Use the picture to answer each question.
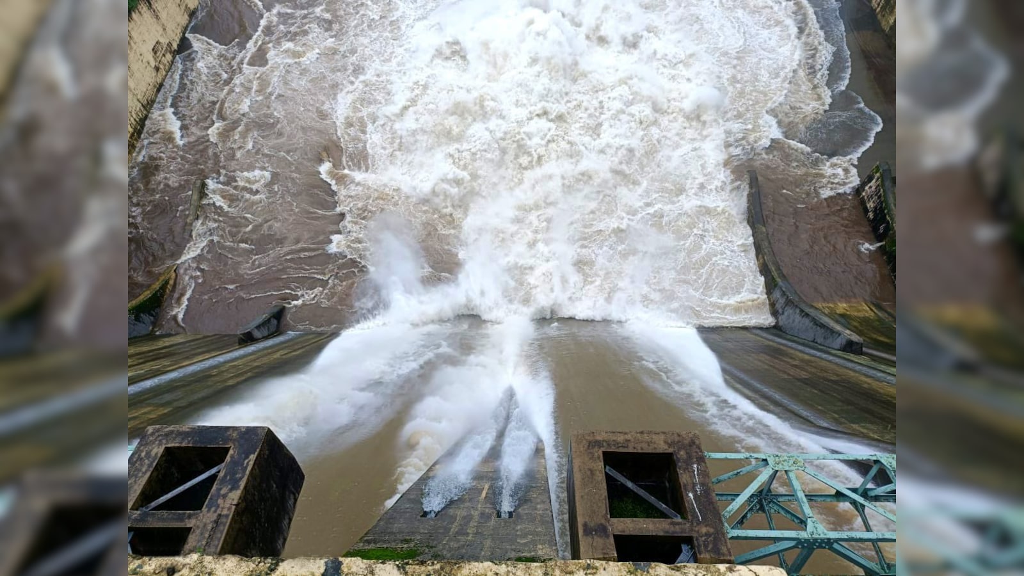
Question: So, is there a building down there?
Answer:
No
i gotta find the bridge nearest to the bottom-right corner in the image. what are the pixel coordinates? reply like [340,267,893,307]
[702,450,1024,576]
